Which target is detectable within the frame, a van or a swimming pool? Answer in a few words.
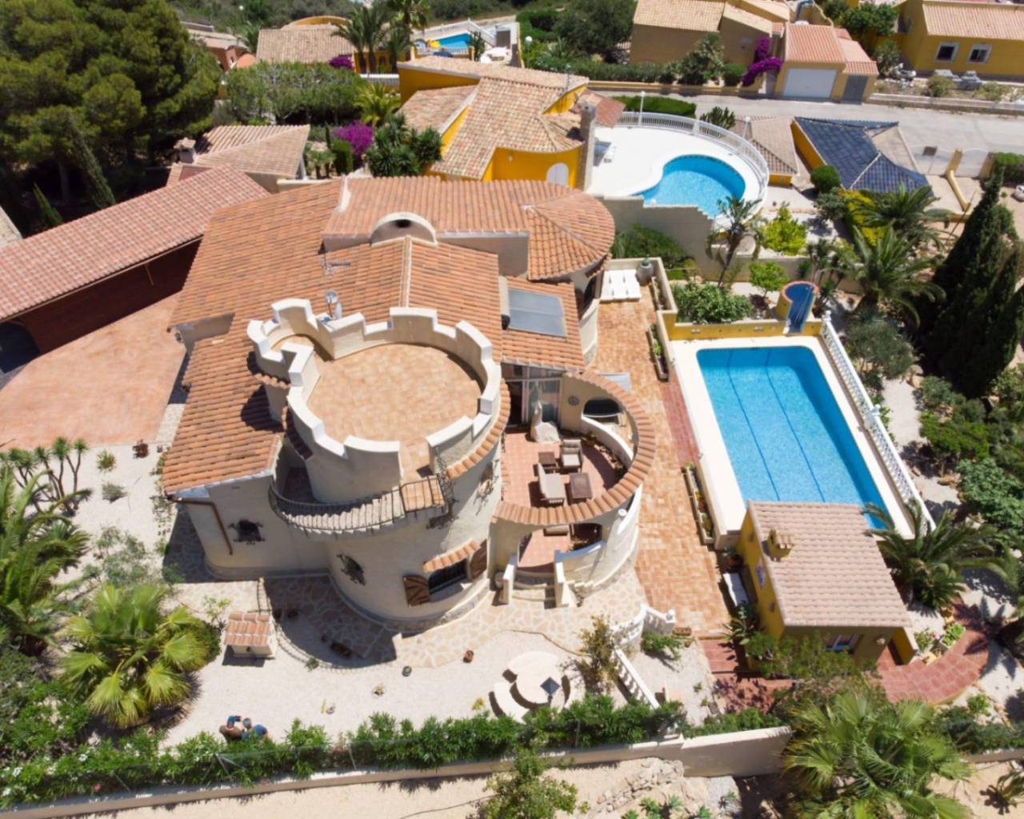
swimming pool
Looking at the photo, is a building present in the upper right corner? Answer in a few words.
Yes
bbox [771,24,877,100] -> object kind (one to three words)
building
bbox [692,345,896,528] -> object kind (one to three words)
swimming pool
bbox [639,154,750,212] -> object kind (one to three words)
swimming pool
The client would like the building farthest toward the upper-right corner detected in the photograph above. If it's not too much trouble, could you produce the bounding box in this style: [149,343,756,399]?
[859,0,1024,85]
